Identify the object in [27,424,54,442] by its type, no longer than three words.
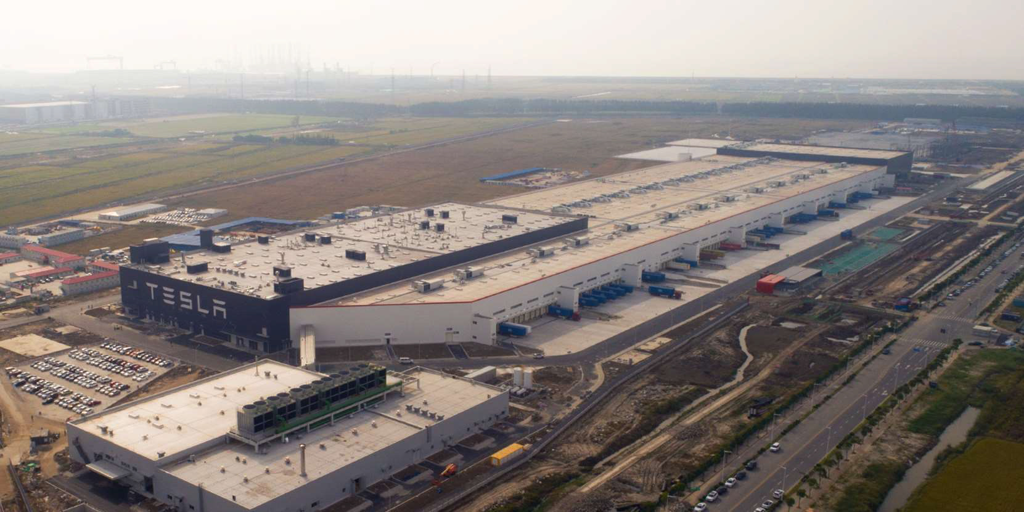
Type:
shed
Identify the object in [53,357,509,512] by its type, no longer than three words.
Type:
building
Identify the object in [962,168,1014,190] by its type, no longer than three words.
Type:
building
